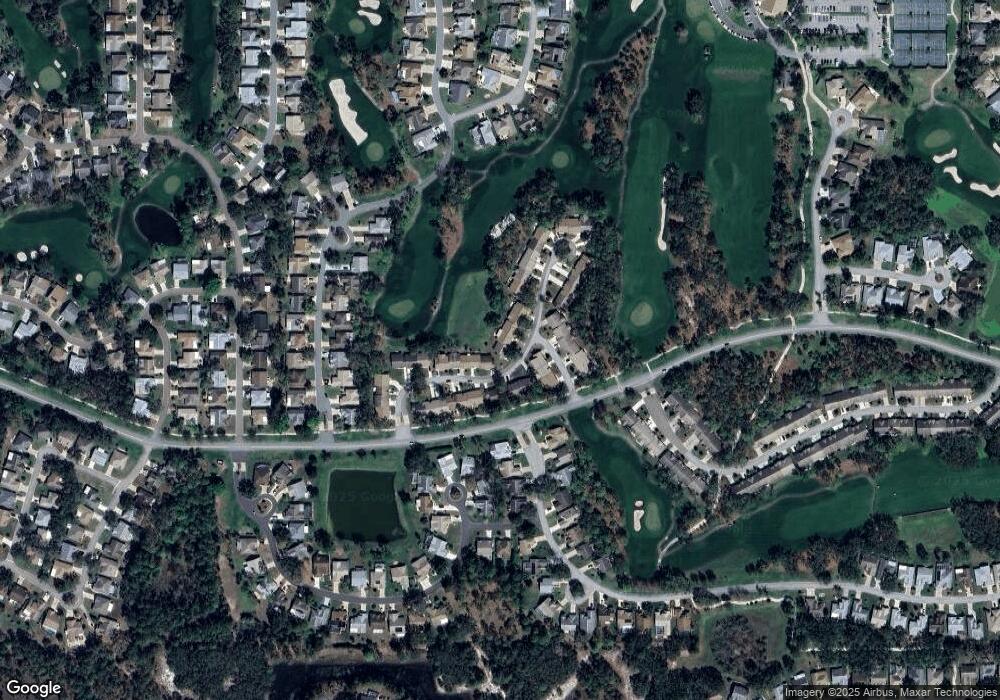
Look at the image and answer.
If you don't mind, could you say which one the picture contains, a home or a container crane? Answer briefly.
home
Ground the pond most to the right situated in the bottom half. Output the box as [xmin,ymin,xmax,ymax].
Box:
[329,470,399,541]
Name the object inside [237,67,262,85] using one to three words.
house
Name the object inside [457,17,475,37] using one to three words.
house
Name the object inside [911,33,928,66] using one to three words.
tennis court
